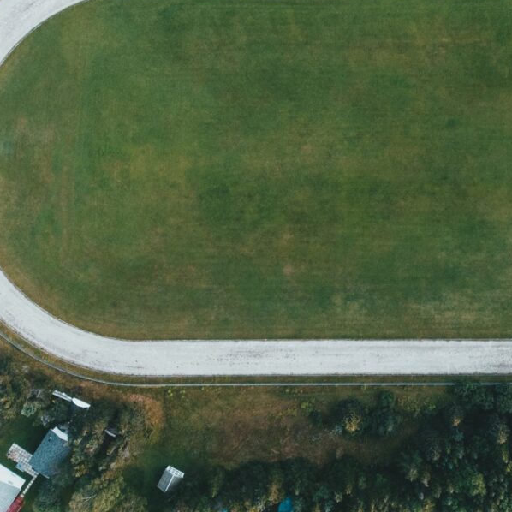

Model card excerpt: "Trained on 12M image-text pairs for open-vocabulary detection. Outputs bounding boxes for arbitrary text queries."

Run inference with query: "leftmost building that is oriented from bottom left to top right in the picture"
[29,427,72,477]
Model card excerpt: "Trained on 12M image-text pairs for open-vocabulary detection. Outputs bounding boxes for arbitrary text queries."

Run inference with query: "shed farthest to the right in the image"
[158,466,184,495]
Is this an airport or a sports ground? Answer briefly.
sports ground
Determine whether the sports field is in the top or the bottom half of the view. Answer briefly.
top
